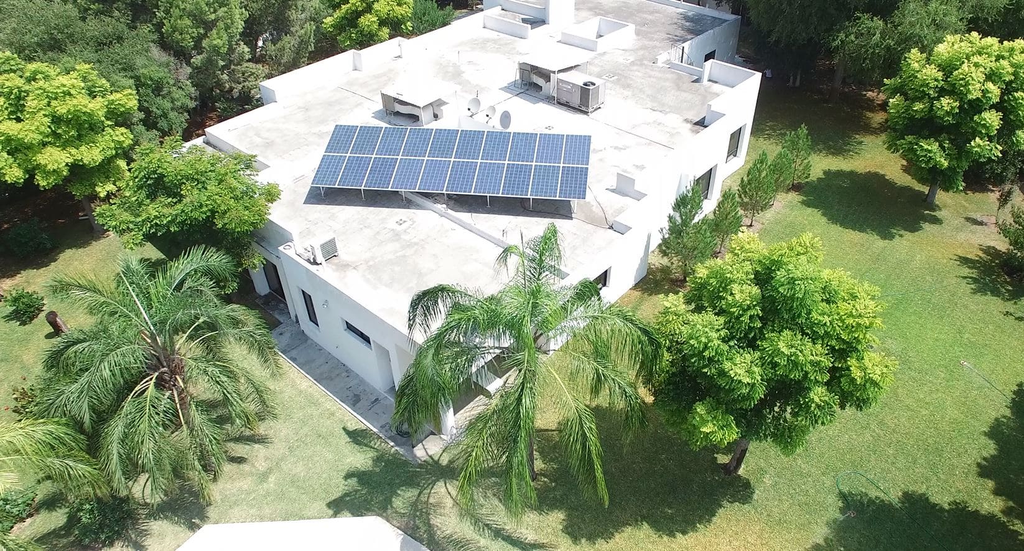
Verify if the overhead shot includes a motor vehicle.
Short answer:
No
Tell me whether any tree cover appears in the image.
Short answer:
Yes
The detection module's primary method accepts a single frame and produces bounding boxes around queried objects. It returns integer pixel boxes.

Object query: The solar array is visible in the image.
[312,125,592,213]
